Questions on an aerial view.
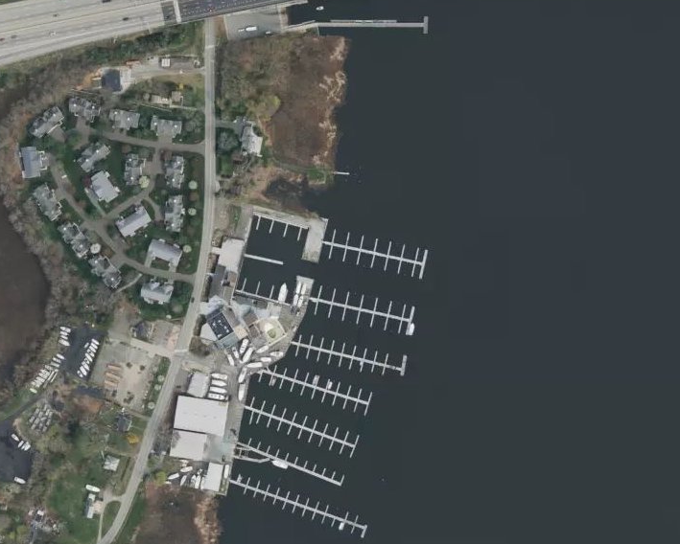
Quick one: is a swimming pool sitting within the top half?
No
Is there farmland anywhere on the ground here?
No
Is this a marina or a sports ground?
marina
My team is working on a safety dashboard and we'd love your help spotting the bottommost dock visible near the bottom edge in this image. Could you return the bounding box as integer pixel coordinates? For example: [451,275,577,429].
[229,474,368,537]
